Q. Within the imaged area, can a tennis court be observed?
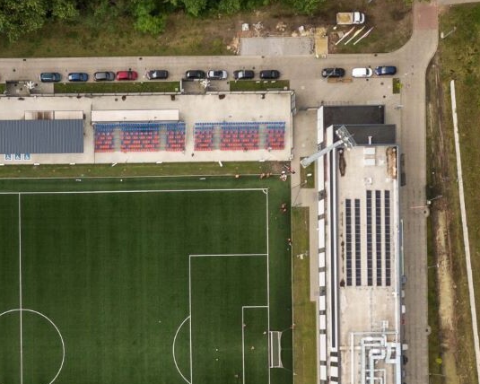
No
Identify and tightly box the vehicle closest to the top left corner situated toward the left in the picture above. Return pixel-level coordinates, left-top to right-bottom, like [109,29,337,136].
[40,70,62,83]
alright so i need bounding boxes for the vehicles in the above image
[93,72,114,81]
[257,68,280,80]
[320,66,345,78]
[373,64,397,76]
[68,72,88,82]
[206,68,229,80]
[349,66,373,78]
[183,68,206,80]
[146,68,169,80]
[40,70,62,83]
[231,68,255,80]
[334,12,363,25]
[117,69,137,81]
